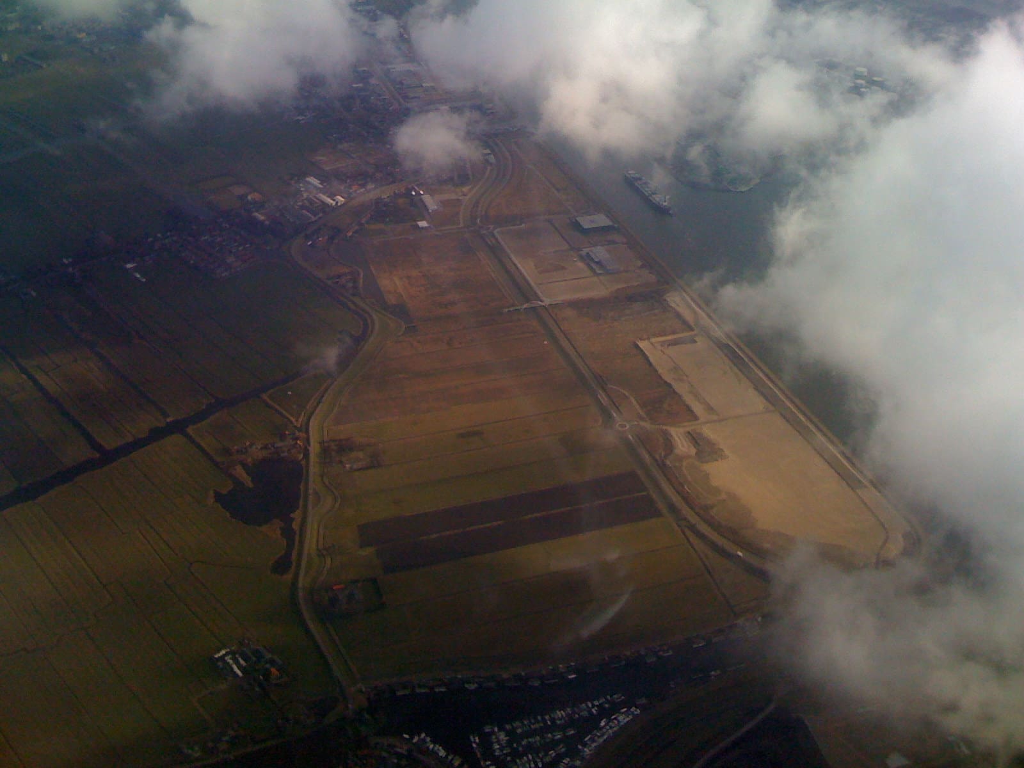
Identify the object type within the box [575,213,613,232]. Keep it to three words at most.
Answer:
building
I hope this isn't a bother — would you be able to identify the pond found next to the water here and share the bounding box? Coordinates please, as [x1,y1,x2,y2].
[214,458,302,574]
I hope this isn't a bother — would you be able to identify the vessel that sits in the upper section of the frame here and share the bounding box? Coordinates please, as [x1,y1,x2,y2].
[622,168,677,213]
